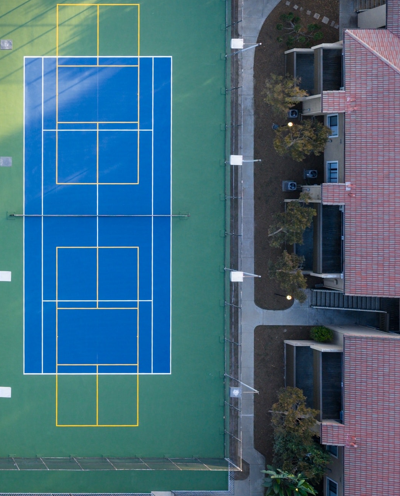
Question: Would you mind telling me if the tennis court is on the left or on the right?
left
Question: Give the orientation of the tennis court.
from top to bottom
